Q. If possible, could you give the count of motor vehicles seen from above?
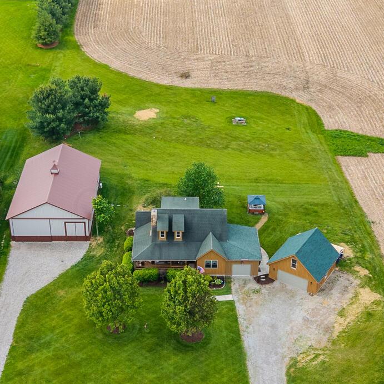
zero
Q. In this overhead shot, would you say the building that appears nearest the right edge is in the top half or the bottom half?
bottom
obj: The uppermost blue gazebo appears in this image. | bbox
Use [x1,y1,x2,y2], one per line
[246,193,268,217]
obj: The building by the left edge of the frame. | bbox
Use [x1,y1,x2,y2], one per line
[4,144,102,242]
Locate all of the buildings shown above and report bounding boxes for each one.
[266,228,341,294]
[131,196,264,278]
[4,144,102,242]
